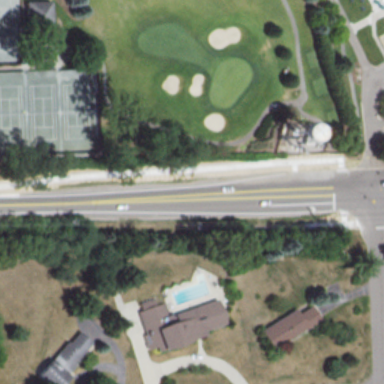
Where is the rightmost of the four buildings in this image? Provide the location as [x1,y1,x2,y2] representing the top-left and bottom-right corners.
[266,303,322,344]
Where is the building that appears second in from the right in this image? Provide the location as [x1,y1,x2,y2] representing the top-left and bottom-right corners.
[139,298,228,350]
